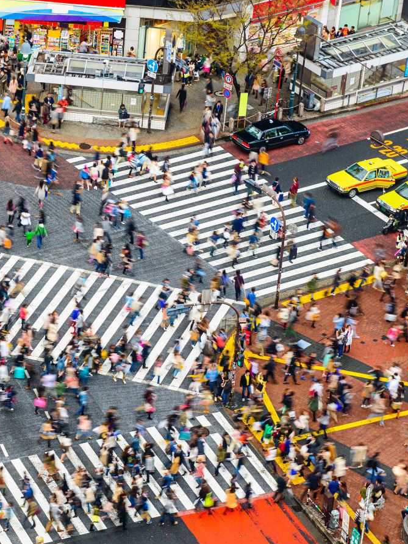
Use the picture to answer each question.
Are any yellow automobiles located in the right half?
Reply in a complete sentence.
Yes, looking in the right half, one can make out a yellow automobile.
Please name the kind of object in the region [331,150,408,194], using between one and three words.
car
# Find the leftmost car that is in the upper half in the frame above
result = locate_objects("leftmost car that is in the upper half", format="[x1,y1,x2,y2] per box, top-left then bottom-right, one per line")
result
[237,110,317,150]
